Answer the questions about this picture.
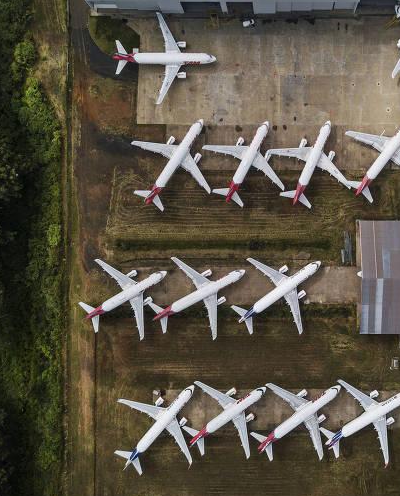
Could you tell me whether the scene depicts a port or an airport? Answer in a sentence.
What you see here is an airport.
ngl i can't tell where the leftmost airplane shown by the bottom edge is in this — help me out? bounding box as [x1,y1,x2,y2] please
[116,385,196,473]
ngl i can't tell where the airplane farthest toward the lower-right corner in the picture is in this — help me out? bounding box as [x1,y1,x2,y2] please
[320,380,400,466]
